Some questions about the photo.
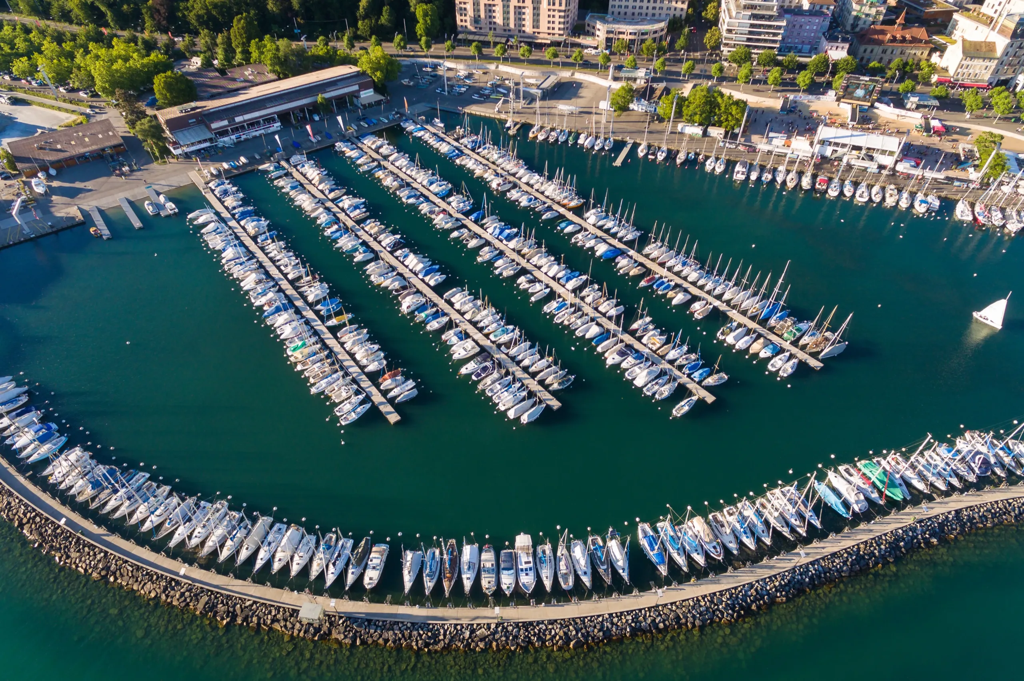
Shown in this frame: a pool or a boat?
boat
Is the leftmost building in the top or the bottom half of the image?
top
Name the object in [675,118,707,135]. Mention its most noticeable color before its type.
white vehicle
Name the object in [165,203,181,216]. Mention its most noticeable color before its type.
white boat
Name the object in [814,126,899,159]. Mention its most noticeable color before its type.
white tent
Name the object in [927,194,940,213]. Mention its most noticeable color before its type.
white boat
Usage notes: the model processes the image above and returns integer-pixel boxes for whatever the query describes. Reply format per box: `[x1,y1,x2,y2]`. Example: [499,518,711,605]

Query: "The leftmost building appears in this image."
[7,119,126,178]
